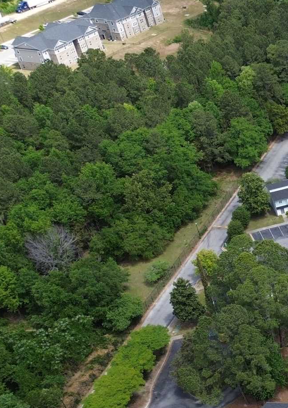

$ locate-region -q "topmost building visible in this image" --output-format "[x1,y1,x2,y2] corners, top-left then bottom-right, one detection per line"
[90,0,166,43]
